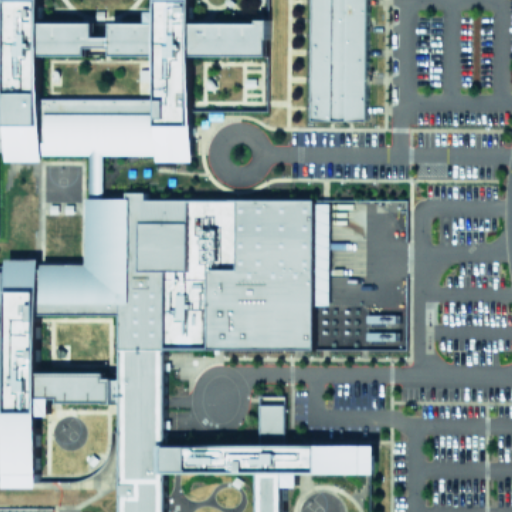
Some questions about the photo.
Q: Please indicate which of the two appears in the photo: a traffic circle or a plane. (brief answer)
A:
traffic circle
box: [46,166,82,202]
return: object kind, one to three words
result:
basketball court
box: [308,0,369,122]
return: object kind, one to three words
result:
building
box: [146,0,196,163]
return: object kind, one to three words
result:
building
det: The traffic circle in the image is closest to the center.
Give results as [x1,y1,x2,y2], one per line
[212,119,272,185]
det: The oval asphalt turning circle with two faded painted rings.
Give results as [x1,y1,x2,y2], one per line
[190,364,254,436]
